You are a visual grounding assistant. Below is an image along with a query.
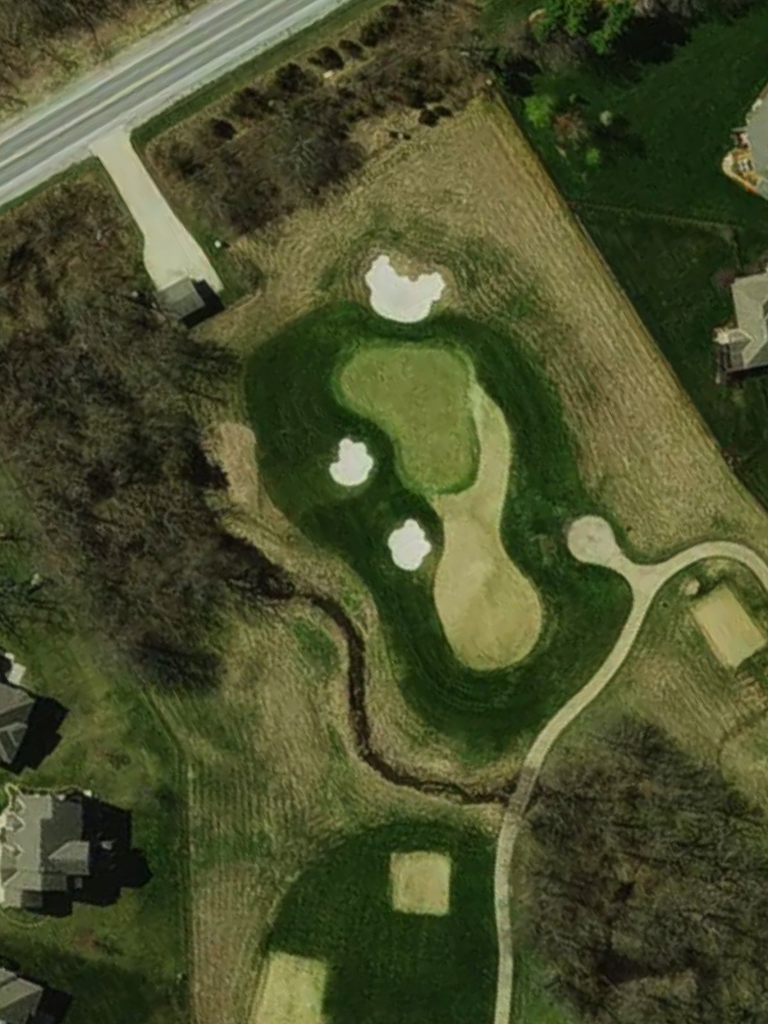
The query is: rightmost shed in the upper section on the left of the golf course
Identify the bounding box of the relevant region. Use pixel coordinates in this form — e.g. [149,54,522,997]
[157,277,203,322]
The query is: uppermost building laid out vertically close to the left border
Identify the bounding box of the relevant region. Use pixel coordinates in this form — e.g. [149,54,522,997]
[0,684,34,763]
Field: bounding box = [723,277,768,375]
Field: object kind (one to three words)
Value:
house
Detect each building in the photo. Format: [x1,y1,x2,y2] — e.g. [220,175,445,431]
[0,794,109,908]
[157,277,203,322]
[0,960,43,1024]
[0,684,34,763]
[734,82,768,199]
[723,277,768,375]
